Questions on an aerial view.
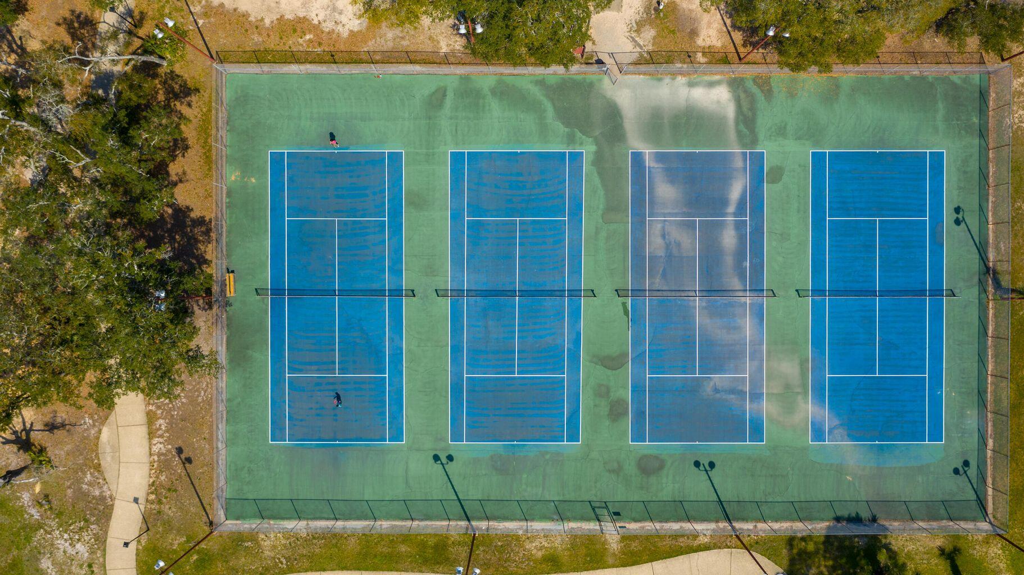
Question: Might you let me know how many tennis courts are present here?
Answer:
4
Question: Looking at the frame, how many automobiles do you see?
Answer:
none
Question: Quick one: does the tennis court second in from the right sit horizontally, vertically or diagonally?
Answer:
vertically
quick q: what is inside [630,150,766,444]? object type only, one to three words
tennis court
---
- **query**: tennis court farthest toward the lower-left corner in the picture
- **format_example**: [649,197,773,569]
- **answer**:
[269,150,405,443]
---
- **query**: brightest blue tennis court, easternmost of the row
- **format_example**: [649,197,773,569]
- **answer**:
[810,150,946,443]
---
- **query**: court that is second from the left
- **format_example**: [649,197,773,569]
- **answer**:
[449,150,585,444]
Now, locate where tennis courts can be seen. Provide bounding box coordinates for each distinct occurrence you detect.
[449,150,585,444]
[810,150,946,443]
[630,150,766,444]
[269,150,405,443]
